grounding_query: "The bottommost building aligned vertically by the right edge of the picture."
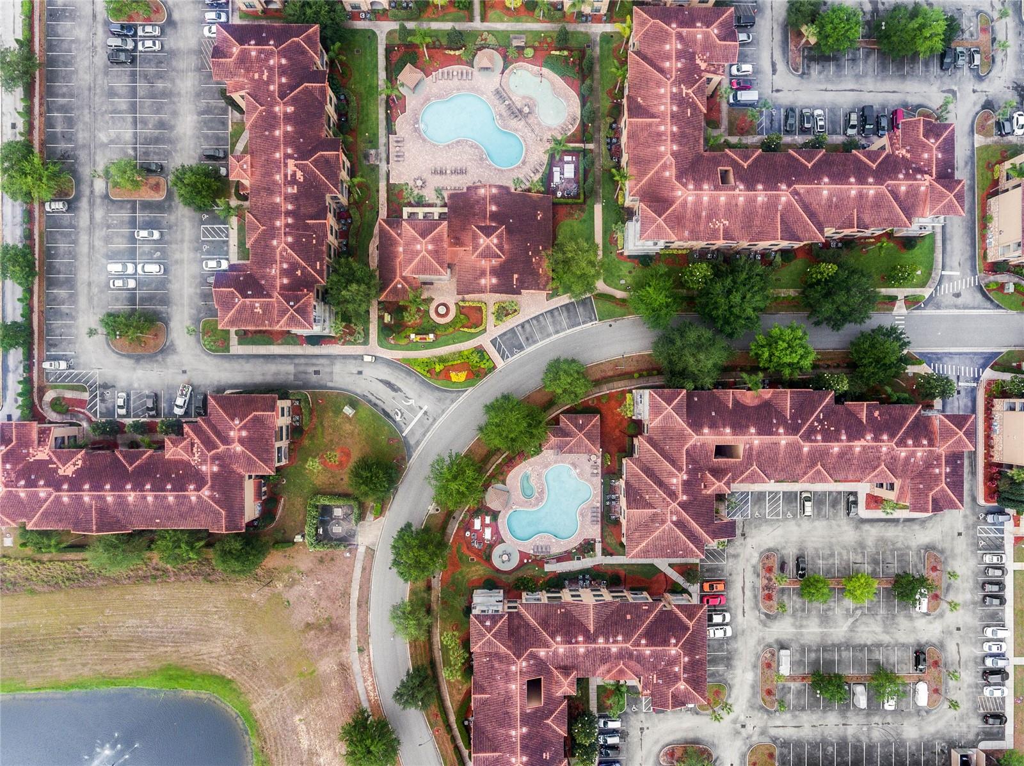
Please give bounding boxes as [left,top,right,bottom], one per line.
[995,401,1024,468]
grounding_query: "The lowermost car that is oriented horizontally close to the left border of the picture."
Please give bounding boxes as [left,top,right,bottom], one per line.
[44,359,70,371]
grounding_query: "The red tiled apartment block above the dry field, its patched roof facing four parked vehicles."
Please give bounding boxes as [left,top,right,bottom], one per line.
[0,393,296,535]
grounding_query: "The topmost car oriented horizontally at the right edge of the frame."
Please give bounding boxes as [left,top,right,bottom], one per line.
[984,512,1012,525]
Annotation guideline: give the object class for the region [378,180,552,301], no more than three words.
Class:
building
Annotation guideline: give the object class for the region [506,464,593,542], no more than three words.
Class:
swimming pool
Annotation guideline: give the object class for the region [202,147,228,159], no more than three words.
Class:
vehicle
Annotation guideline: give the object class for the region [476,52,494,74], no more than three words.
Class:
gazebo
